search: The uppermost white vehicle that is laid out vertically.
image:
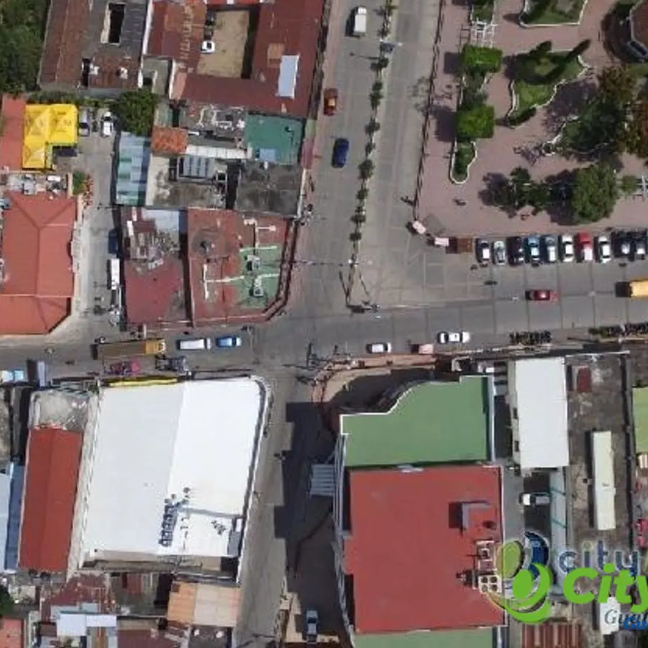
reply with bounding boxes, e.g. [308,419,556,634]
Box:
[352,8,367,40]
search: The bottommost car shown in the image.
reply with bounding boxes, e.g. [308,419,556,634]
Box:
[305,608,318,634]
